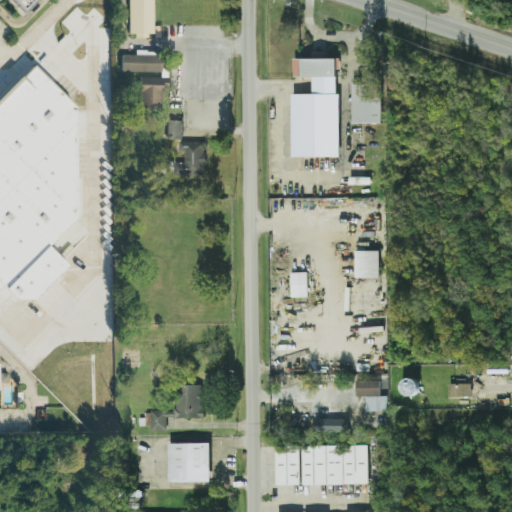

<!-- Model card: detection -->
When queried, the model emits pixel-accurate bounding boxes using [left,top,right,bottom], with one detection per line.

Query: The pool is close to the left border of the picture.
[2,380,16,408]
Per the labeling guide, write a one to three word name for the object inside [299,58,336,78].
building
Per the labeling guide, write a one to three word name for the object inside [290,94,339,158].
building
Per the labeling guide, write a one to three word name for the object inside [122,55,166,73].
house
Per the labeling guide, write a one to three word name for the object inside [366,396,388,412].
shed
